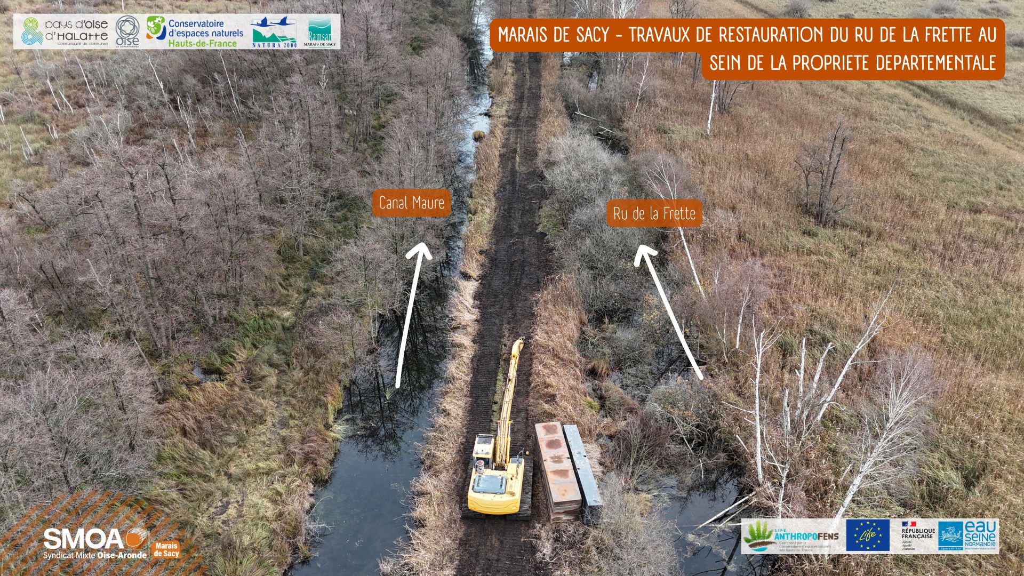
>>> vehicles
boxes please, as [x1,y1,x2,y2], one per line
[461,335,534,518]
